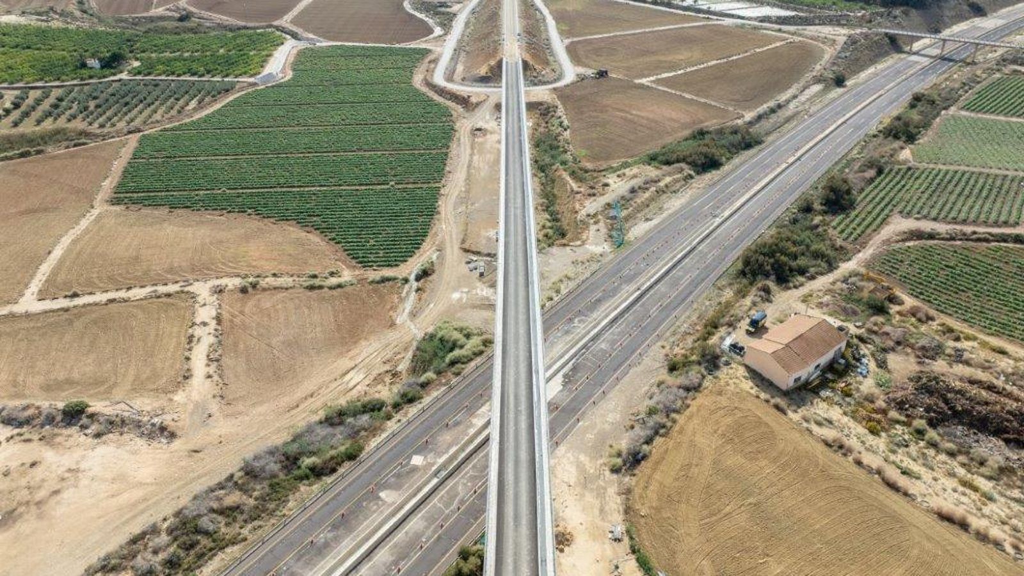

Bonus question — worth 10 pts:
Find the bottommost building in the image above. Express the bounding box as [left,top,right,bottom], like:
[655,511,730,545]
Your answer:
[743,314,851,391]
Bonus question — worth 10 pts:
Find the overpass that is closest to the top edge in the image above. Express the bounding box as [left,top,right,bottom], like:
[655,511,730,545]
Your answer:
[857,28,1024,59]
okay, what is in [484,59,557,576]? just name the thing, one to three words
bridge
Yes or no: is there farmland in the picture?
Yes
